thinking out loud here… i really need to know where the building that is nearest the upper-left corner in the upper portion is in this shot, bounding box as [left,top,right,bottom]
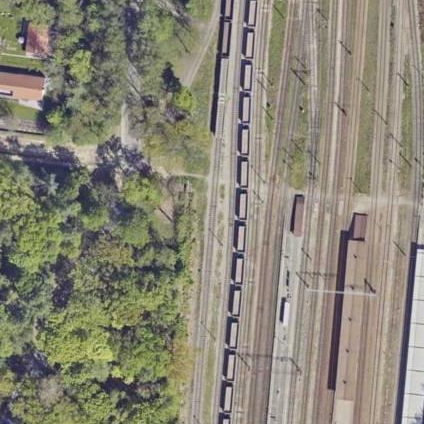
[25,23,51,56]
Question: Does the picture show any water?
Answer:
No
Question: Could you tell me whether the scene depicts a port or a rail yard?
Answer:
rail yard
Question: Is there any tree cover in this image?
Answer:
Yes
